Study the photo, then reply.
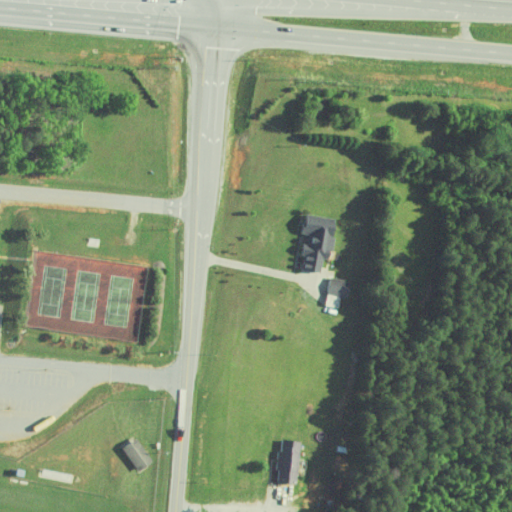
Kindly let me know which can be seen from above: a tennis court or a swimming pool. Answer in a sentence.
This aerial view contains a tennis court.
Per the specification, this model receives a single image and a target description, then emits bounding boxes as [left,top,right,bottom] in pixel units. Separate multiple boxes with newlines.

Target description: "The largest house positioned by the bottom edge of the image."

[274,440,302,488]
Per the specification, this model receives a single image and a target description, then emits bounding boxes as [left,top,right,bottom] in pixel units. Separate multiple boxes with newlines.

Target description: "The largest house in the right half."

[300,214,338,272]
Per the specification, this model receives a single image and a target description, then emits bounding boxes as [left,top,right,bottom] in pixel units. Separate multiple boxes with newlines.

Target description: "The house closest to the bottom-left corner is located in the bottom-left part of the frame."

[123,439,154,473]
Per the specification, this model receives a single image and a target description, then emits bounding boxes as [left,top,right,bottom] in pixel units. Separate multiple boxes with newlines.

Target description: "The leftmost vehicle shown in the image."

[34,415,56,432]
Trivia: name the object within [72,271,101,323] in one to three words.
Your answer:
tennis court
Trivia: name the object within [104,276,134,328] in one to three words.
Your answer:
tennis court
